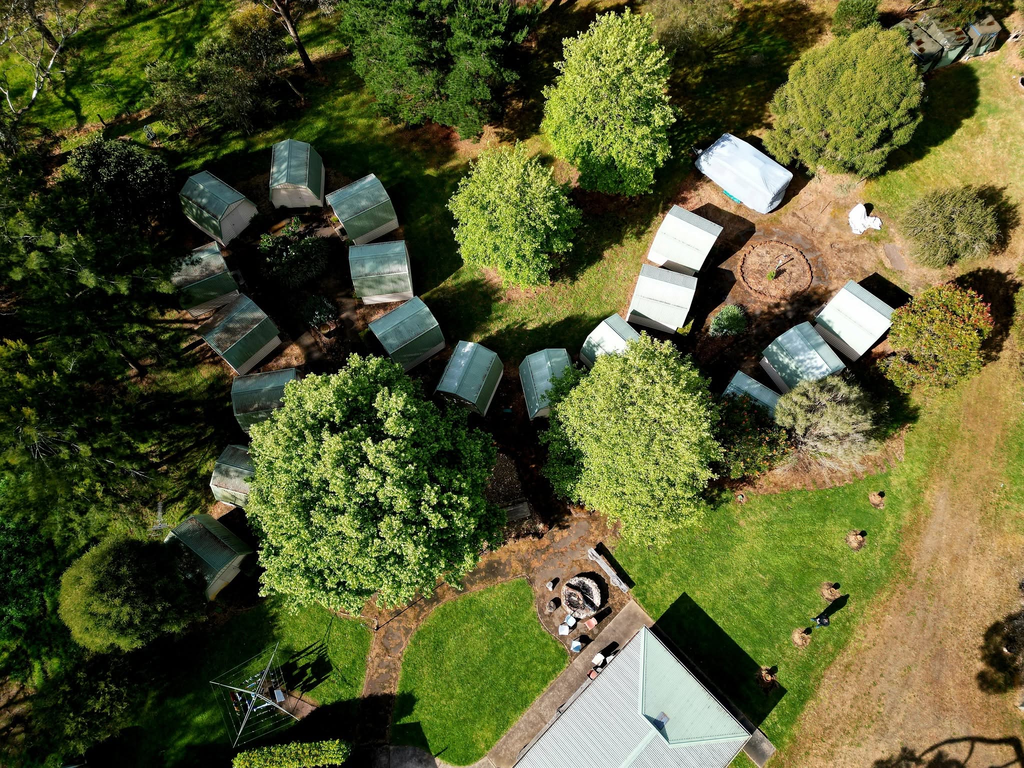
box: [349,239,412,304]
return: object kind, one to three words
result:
shed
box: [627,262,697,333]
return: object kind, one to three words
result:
shed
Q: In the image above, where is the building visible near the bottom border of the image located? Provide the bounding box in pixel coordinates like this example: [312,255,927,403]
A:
[508,621,755,768]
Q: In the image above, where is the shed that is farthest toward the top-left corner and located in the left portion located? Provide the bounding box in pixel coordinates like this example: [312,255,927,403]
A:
[179,170,260,246]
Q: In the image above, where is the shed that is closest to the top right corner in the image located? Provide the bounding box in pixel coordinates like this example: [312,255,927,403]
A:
[811,279,900,359]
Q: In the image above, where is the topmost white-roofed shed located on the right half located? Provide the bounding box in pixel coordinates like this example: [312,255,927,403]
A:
[650,204,723,276]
